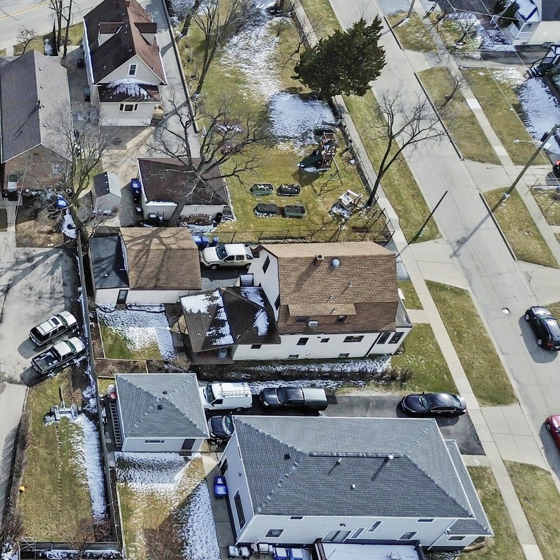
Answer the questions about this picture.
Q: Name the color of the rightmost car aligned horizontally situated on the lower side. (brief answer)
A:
black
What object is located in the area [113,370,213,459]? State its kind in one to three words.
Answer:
building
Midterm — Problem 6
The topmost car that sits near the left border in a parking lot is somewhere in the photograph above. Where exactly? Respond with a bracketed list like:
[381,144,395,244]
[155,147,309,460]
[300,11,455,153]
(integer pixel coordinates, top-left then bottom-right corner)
[24,310,82,351]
